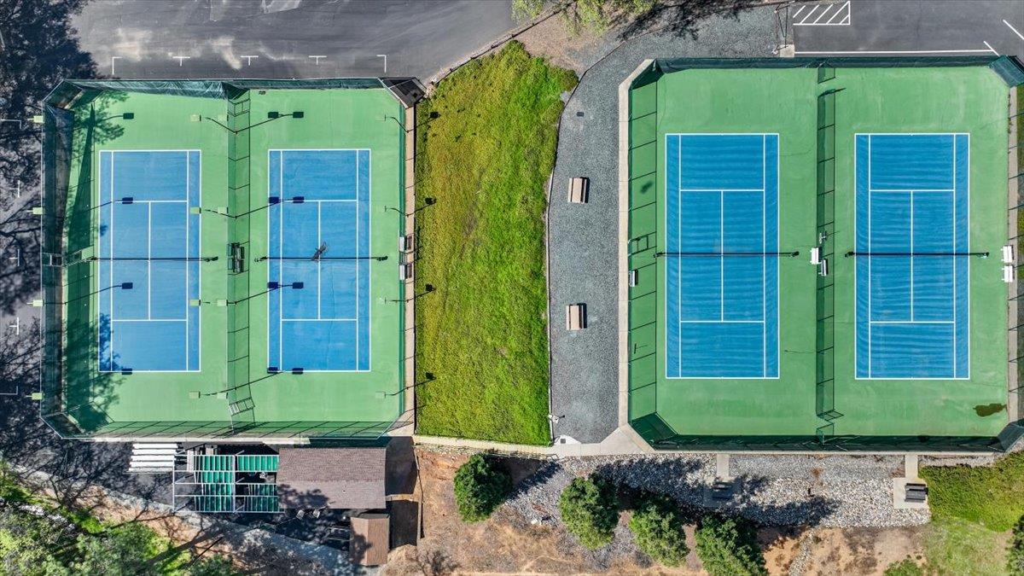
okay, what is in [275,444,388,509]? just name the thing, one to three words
building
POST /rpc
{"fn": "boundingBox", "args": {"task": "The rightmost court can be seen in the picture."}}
[817,70,1008,442]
